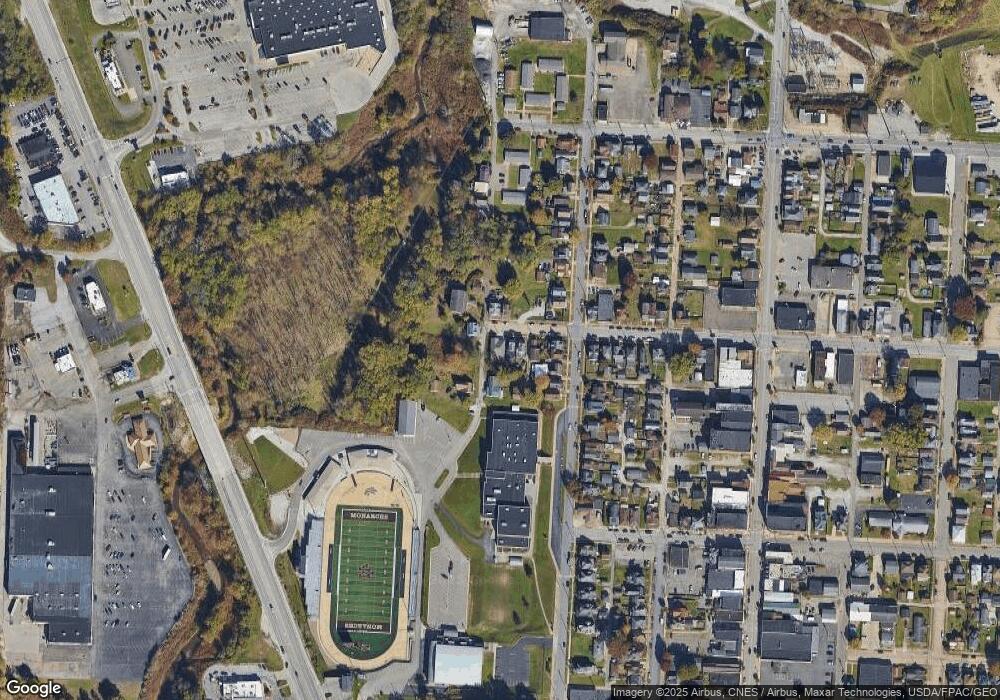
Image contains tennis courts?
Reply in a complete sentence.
No, there isn't any tennis court down there.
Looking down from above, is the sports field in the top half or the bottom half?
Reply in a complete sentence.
The sports field is in the bottom half of the image.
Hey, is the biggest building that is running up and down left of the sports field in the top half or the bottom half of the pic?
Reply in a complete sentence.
You can find the biggest building that is running up and down left of the sports field in the bottom half.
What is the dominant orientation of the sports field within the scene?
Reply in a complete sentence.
I'd say the sports field is aligned up and down in the picture.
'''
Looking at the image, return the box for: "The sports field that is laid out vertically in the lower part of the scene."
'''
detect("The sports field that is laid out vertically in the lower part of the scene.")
[328,505,404,658]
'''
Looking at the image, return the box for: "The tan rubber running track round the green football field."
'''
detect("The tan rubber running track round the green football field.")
[319,472,414,670]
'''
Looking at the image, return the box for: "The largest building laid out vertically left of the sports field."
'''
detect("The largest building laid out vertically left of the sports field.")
[7,431,94,643]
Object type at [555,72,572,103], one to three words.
house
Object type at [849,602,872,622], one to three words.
building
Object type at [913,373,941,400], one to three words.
building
